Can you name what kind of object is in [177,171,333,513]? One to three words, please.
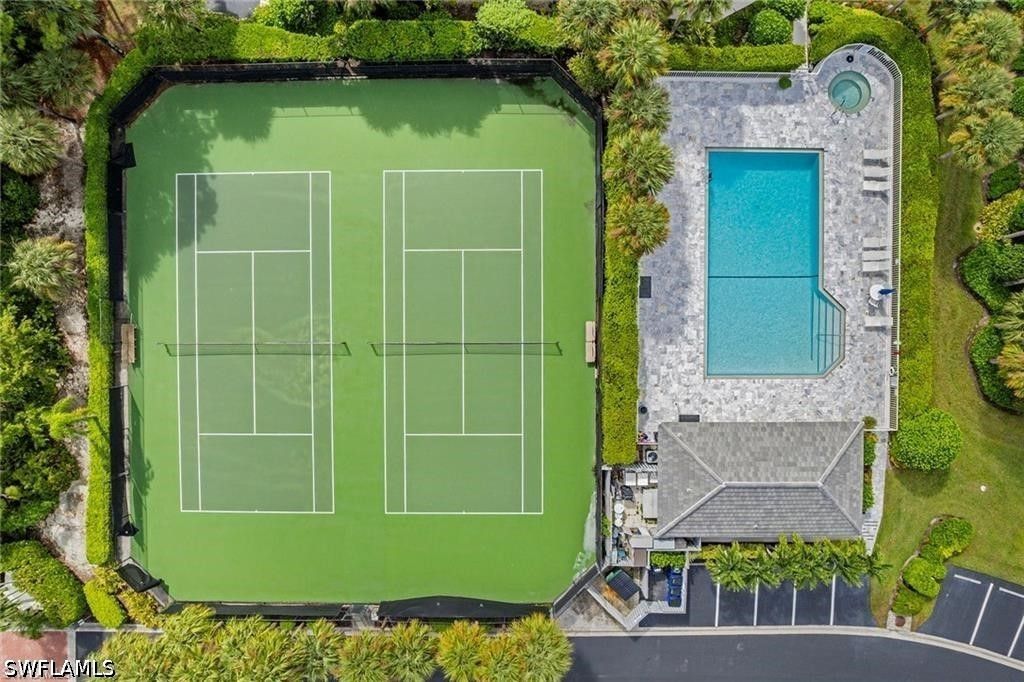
tennis court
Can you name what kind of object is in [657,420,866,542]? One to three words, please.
building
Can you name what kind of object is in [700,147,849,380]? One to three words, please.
swimming pool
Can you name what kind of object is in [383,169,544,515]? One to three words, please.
tennis court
